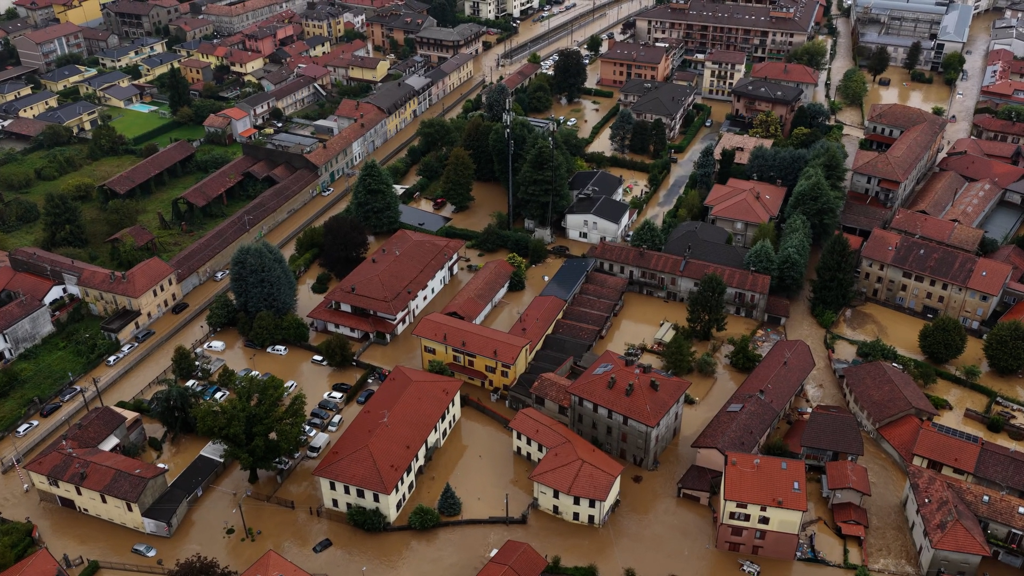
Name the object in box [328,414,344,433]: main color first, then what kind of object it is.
white car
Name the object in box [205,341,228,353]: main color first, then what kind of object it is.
white vehicle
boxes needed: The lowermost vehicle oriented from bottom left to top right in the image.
[309,536,336,559]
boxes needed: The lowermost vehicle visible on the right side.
[732,556,760,576]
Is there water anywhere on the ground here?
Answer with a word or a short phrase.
Yes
